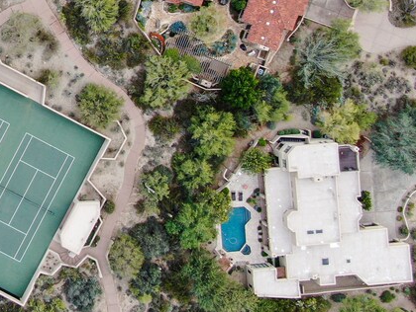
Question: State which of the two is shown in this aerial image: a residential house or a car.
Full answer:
Of the two, only a residential house appears.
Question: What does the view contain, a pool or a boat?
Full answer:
There is a pool in the scene.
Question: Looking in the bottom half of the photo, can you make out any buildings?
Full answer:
Yes, a building can be seen in the bottom half of the photo.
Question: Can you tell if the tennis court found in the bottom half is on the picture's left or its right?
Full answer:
The tennis court found in the bottom half sits on the left side.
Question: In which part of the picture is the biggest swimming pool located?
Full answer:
The biggest swimming pool appears toward the bottom of the photo.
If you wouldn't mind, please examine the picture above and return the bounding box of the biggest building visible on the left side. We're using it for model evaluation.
[58,198,99,254]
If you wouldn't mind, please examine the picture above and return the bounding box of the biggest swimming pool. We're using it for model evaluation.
[219,205,252,253]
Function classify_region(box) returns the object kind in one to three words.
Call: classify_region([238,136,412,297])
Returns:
house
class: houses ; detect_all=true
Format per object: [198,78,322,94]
[236,0,309,51]
[238,136,412,297]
